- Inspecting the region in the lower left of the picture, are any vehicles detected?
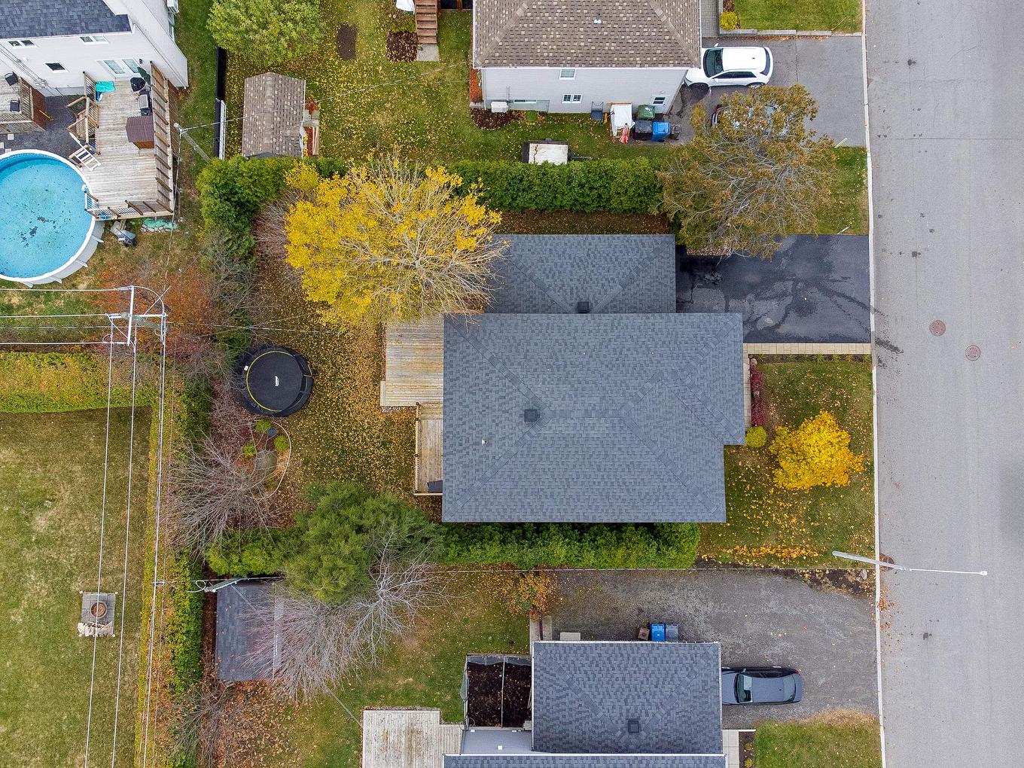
No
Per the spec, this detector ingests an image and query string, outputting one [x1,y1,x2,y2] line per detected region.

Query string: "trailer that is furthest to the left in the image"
[525,135,595,166]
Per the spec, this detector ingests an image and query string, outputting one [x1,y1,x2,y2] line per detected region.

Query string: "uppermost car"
[688,42,771,86]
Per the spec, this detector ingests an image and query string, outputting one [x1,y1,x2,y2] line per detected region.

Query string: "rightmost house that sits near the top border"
[473,0,704,114]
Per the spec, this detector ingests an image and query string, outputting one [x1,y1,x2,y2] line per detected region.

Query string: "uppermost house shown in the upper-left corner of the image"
[0,0,186,96]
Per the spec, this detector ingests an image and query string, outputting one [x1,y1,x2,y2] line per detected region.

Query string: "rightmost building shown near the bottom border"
[443,637,727,768]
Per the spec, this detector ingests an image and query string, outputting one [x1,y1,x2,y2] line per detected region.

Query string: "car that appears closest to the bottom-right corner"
[721,665,805,710]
